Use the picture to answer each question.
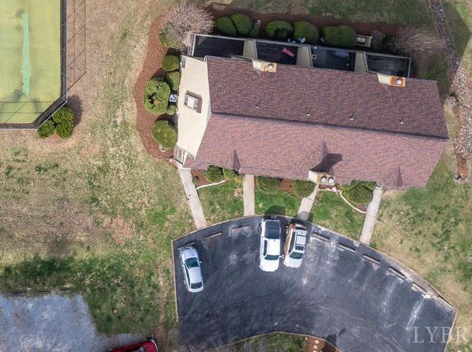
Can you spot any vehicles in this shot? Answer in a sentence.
Yes, you can see a vehicle in this photo.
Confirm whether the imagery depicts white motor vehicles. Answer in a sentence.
Yes, the picture does show a white motor vehicle.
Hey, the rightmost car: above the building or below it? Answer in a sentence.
It's below the building that the rightmost car shows up.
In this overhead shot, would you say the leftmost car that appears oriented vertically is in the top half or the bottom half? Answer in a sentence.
You can find the leftmost car that appears oriented vertically in the bottom half.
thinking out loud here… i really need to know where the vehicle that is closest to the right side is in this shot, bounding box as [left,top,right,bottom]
[282,221,308,269]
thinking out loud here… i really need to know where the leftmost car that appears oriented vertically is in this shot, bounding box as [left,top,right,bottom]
[176,245,204,293]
